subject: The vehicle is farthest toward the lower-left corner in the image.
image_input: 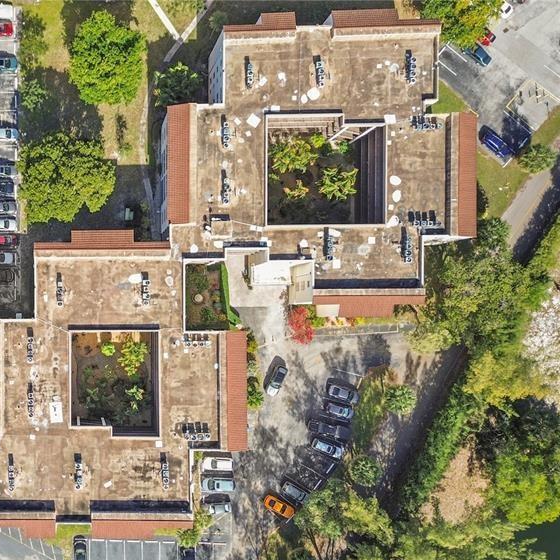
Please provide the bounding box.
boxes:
[74,538,88,560]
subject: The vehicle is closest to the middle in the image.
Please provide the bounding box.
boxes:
[266,365,285,392]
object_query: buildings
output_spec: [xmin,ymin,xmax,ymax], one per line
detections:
[0,228,248,541]
[159,6,480,318]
